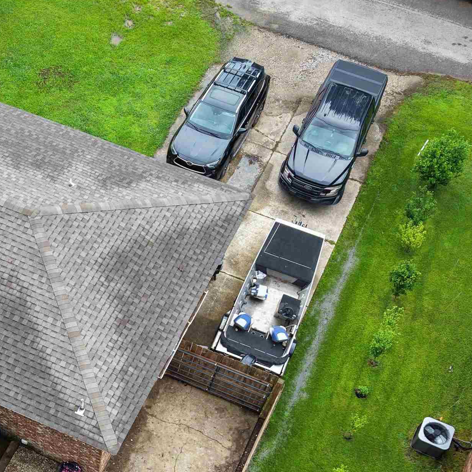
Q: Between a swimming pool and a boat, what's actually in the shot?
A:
boat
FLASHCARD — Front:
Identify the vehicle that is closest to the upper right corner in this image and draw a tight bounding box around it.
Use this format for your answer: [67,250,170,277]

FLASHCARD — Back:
[277,56,393,209]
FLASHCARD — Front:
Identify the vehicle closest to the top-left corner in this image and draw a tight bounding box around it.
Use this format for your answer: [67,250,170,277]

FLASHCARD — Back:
[168,55,272,182]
